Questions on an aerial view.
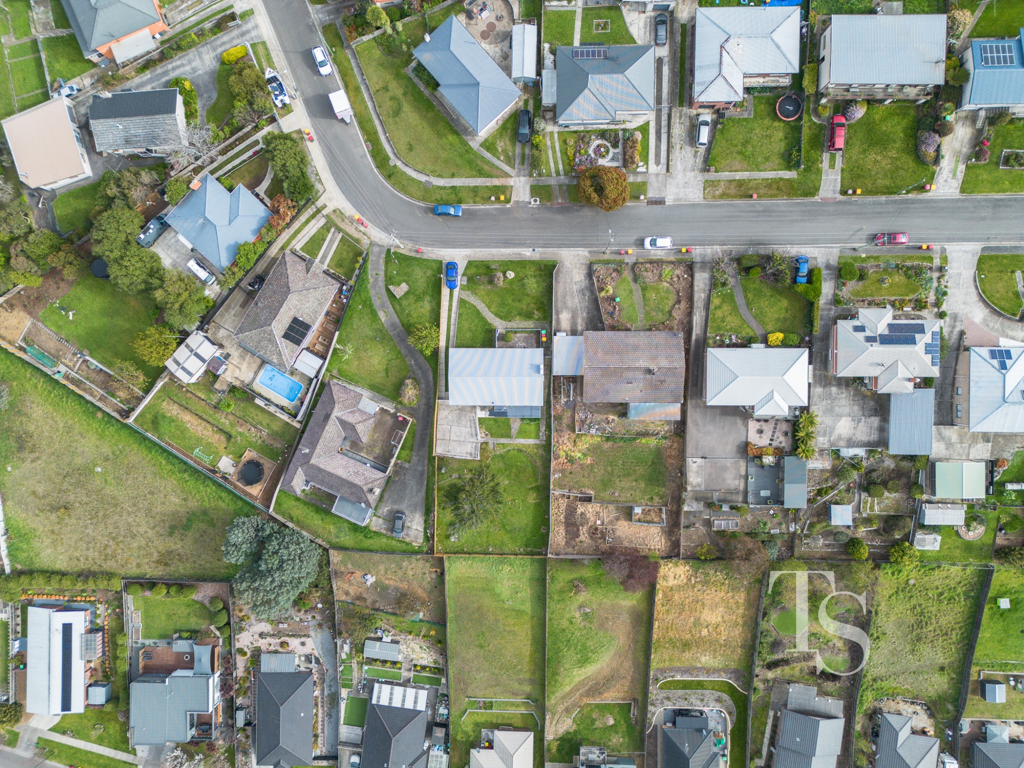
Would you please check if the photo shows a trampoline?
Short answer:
Yes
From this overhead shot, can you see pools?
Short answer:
Yes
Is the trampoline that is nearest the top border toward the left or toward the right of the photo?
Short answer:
right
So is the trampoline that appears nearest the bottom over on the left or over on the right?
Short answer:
left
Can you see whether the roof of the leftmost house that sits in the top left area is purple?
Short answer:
No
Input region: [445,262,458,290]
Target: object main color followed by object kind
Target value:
blue vehicle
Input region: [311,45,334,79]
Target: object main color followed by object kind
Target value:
white car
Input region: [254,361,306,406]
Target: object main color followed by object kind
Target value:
blue swimming pool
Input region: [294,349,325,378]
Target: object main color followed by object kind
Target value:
white gazebo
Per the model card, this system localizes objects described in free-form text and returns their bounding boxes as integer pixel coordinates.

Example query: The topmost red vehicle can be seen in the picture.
[827,115,845,154]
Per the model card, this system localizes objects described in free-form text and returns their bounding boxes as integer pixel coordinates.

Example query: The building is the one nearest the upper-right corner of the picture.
[952,27,1024,114]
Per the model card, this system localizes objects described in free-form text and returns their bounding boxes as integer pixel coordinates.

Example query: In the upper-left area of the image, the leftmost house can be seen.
[1,96,95,191]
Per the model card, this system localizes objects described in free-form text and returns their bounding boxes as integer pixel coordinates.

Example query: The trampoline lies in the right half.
[775,94,808,121]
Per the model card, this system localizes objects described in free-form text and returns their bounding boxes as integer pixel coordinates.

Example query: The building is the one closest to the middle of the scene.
[448,347,546,418]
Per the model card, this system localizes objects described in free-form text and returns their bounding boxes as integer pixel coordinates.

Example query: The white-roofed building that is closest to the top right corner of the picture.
[817,14,947,105]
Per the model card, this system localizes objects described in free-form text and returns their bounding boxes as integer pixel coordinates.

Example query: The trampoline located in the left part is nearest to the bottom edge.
[236,461,263,486]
